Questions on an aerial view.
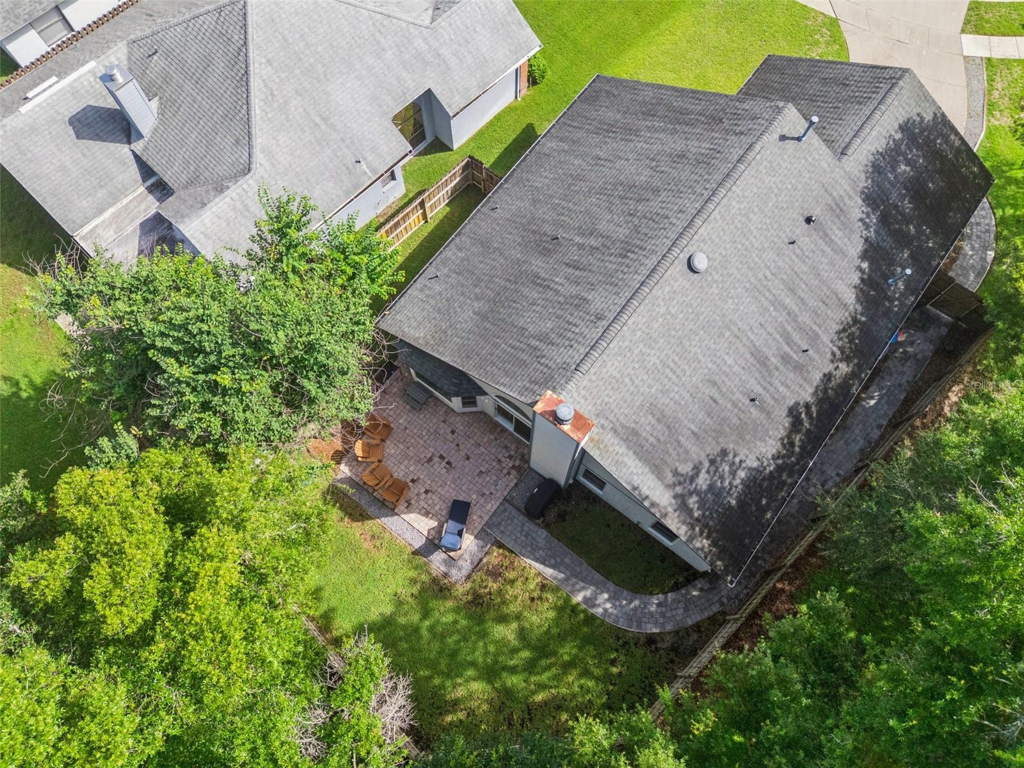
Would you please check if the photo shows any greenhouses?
No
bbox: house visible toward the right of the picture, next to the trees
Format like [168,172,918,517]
[374,54,996,587]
